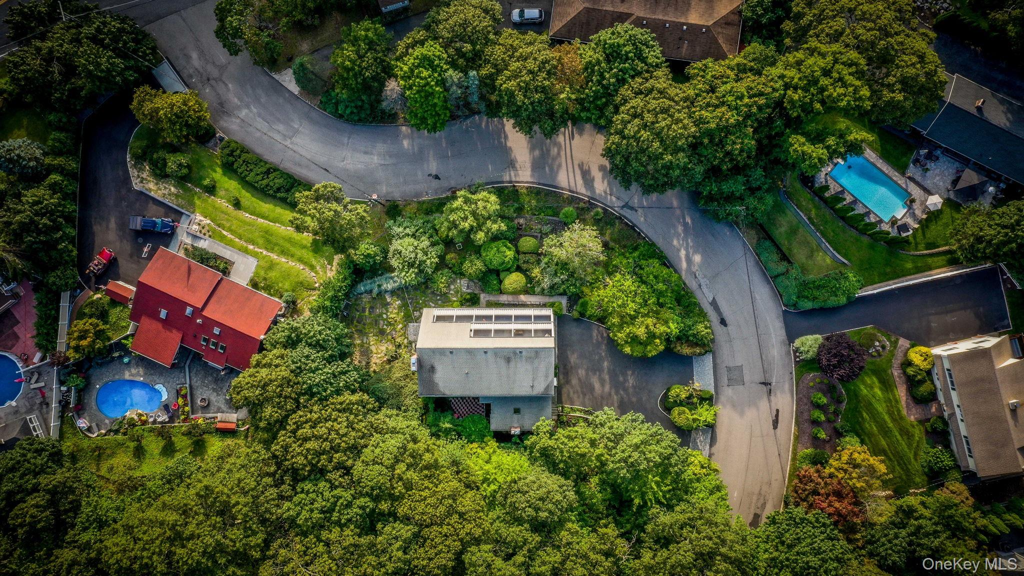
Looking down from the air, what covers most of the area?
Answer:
trees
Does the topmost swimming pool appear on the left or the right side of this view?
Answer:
right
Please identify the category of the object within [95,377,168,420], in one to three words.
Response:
swimming pool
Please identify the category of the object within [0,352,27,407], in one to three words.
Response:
swimming pool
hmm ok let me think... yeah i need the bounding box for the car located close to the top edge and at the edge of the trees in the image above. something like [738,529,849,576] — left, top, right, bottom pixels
[511,5,546,23]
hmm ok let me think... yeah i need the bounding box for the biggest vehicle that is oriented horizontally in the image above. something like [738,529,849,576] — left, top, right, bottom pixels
[124,214,176,235]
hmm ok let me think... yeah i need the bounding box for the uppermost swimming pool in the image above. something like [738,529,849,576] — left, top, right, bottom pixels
[826,146,916,227]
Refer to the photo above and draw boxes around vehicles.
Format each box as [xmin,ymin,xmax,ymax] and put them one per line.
[124,214,176,235]
[80,243,117,282]
[511,5,546,23]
